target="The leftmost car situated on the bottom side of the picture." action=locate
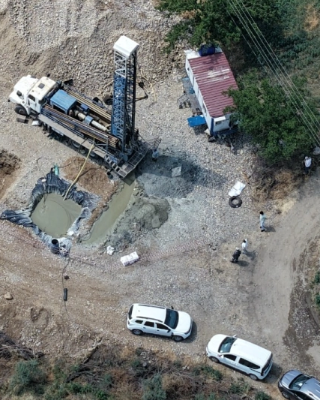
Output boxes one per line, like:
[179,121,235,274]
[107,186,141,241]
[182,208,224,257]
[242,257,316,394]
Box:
[126,301,198,344]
